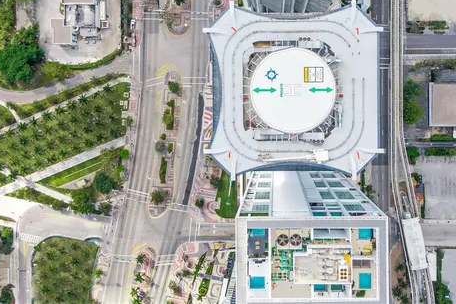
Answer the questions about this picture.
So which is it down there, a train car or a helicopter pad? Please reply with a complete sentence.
There is a helicopter pad in the scene.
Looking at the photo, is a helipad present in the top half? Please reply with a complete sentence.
Yes, a helipad shows up in the top half.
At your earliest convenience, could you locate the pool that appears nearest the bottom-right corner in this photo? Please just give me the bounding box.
[358,272,372,290]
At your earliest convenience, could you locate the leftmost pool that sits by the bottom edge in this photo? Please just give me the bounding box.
[249,275,266,290]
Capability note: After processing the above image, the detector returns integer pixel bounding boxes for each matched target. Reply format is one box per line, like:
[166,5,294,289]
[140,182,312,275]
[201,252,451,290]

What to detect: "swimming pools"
[250,229,267,237]
[313,283,326,292]
[358,229,373,240]
[358,272,372,290]
[249,275,266,290]
[331,283,343,292]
